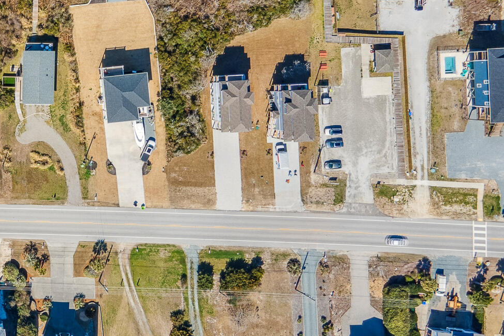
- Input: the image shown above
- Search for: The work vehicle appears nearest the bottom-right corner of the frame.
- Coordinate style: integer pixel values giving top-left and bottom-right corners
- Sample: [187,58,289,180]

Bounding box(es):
[445,288,459,310]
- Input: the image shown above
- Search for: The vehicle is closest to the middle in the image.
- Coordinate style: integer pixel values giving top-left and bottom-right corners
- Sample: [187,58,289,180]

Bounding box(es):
[272,141,288,169]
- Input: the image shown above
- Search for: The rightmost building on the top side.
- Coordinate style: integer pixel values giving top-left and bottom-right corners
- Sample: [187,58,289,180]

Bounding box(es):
[453,48,504,137]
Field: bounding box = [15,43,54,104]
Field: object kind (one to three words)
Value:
house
